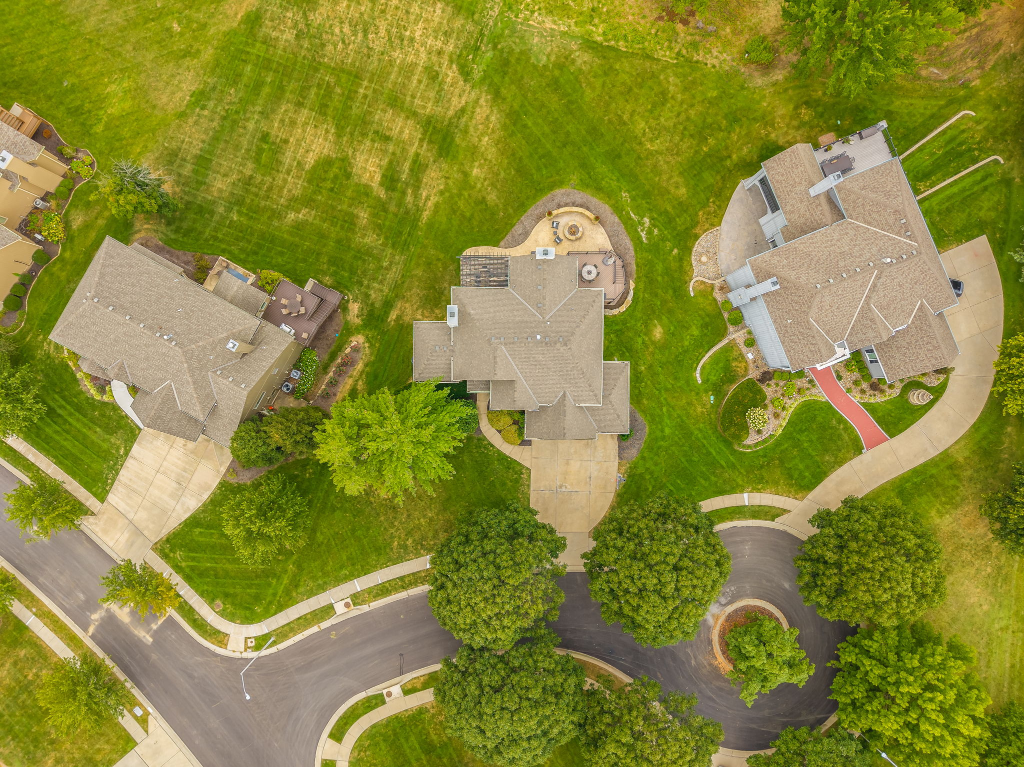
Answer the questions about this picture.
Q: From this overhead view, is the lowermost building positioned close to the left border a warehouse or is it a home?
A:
home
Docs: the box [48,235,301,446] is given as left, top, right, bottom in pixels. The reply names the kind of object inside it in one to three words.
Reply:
house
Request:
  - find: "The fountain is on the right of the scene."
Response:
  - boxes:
[907,388,933,406]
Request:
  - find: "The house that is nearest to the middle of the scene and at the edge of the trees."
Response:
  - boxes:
[412,248,631,441]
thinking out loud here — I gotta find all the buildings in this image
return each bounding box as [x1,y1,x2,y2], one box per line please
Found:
[48,235,301,446]
[412,248,631,441]
[0,122,70,301]
[715,143,961,385]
